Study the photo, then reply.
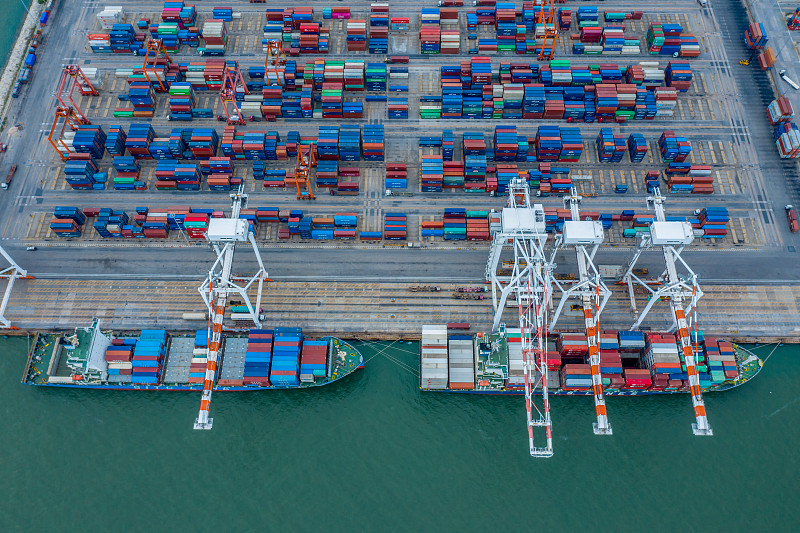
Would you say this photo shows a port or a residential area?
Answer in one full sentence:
It's a port.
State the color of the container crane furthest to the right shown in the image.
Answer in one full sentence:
The container crane furthest to the right looks white in the image.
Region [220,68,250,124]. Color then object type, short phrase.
red container crane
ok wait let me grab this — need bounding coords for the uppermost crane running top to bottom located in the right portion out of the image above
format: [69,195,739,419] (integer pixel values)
[537,6,560,60]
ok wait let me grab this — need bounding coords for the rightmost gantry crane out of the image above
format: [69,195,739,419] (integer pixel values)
[614,186,714,432]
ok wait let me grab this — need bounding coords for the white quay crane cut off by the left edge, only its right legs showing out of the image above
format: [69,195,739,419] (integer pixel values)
[0,247,33,328]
